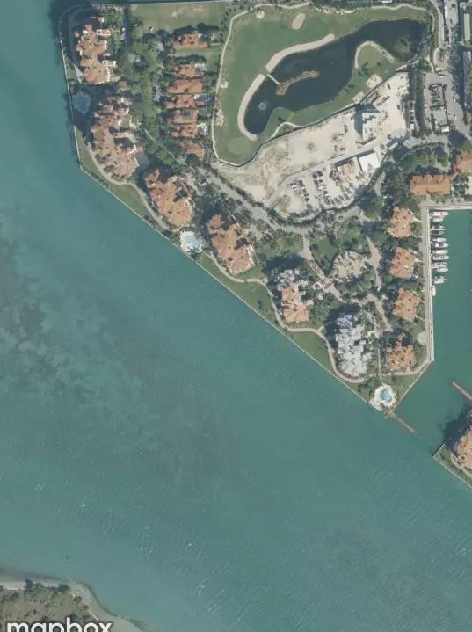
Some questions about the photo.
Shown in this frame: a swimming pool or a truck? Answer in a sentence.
It is a swimming pool that can be seen here.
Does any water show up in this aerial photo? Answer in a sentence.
Yes, water shows up in the scene.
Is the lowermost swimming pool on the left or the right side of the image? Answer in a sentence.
The lowermost swimming pool appears in the right half of the scene.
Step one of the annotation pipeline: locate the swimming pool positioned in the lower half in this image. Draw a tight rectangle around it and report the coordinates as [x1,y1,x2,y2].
[371,385,396,413]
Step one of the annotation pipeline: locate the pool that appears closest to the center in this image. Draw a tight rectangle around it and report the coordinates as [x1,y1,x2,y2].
[179,229,202,253]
